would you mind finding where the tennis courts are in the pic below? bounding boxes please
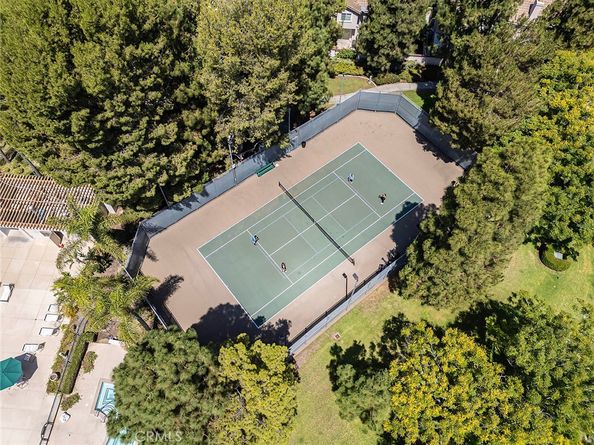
[138,110,463,368]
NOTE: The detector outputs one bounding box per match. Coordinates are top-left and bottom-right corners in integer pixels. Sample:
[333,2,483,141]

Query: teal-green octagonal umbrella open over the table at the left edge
[0,356,25,390]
